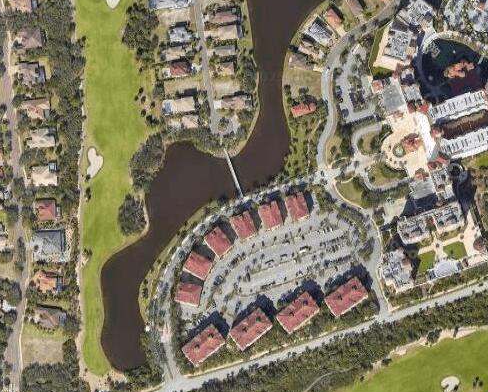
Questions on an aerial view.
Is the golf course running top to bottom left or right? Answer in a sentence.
The golf course running top to bottom sits on the left side.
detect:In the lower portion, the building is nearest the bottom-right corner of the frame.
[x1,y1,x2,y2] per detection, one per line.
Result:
[431,259,461,281]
